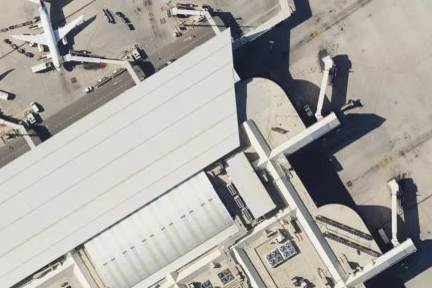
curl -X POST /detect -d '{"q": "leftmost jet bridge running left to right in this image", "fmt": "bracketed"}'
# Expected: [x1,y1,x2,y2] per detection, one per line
[61,54,142,85]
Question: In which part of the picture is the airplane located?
top left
